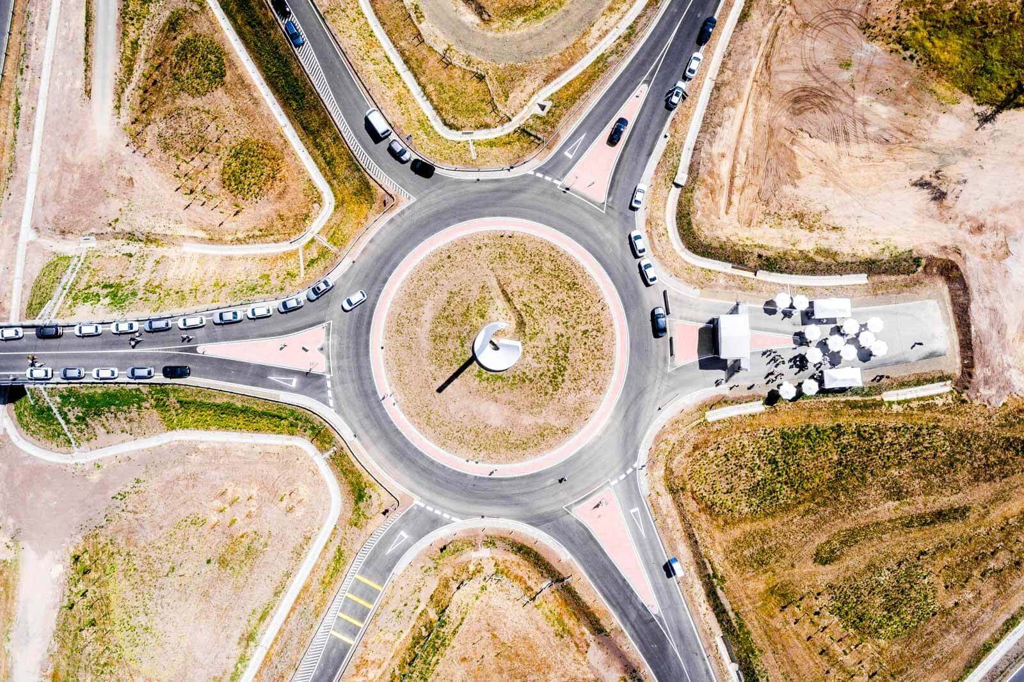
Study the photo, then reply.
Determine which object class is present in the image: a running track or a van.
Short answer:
van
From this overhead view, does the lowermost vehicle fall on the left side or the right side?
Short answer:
right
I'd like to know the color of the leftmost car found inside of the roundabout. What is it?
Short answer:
white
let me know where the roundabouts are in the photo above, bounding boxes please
[327,172,671,519]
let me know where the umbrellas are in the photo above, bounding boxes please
[864,317,883,333]
[801,379,818,395]
[779,382,796,398]
[857,331,875,347]
[803,324,821,341]
[839,345,857,361]
[868,339,888,356]
[826,336,843,351]
[774,292,791,308]
[840,319,858,335]
[791,294,809,310]
[804,347,822,363]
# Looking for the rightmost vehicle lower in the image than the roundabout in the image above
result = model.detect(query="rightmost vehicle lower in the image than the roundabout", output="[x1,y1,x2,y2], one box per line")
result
[664,554,684,581]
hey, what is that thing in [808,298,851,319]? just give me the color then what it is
white tent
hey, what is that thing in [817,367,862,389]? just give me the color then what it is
white tent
